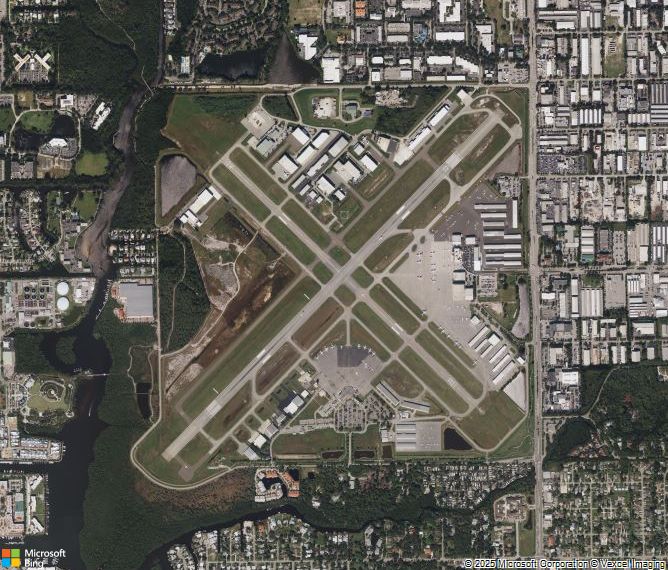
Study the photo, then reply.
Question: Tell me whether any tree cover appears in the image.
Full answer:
Yes, the picture does contain tree cover.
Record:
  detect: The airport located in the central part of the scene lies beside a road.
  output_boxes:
[130,83,531,489]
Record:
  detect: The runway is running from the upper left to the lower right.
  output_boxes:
[219,155,478,407]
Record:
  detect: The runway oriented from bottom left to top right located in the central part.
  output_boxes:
[162,112,502,461]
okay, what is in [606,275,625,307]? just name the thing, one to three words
building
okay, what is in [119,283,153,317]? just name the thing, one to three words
building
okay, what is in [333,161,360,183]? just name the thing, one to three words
hangar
